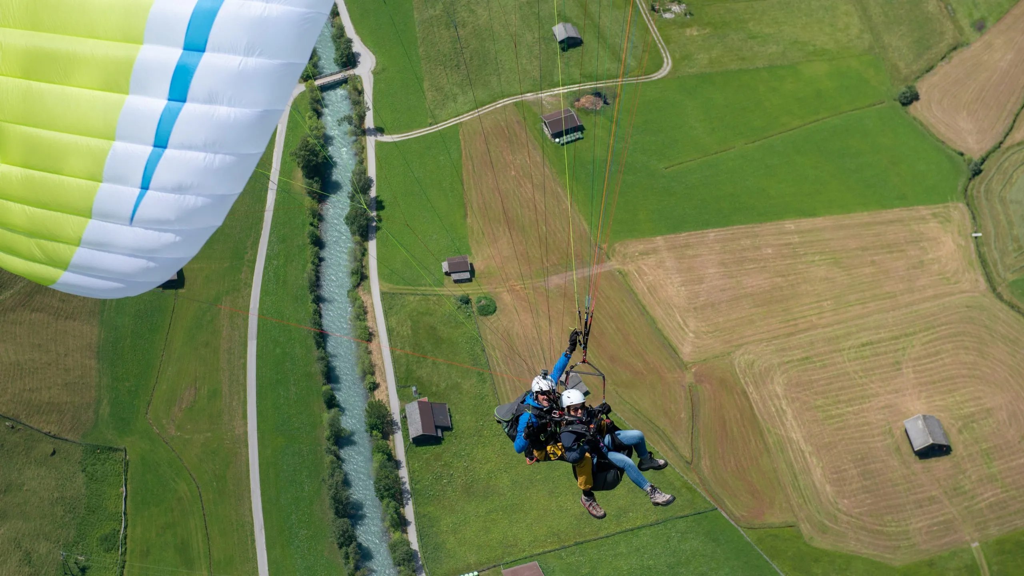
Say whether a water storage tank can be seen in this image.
No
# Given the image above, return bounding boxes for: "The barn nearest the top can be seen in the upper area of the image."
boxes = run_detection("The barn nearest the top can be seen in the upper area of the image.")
[552,20,582,46]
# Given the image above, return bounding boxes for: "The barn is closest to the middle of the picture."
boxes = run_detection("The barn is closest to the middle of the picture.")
[442,255,470,284]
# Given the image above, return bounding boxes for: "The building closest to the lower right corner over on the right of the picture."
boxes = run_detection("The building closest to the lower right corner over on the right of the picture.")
[904,412,949,456]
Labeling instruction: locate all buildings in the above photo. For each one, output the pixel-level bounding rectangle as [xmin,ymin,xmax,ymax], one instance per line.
[542,108,584,139]
[904,412,949,456]
[442,255,470,284]
[502,561,540,576]
[405,396,452,444]
[564,374,590,397]
[154,273,178,291]
[552,20,582,46]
